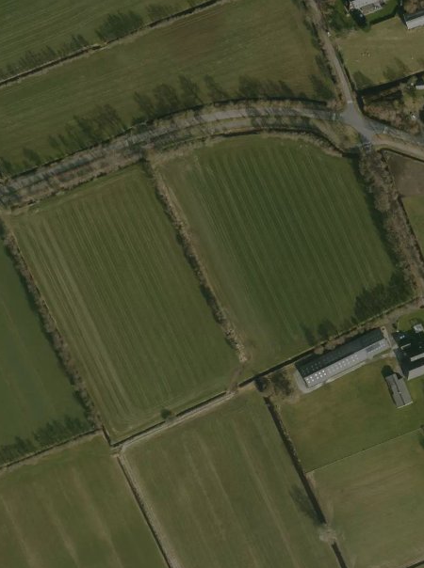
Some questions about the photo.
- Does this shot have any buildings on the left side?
No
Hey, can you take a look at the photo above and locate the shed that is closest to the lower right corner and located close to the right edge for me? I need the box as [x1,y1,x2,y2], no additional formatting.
[384,372,412,408]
